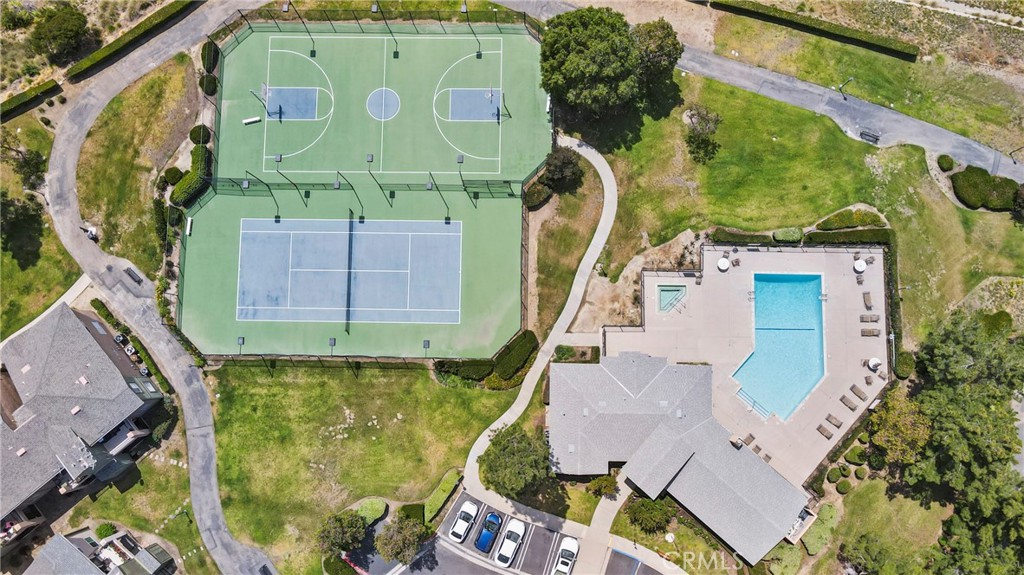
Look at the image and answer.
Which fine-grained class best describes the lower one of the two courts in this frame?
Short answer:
tennis court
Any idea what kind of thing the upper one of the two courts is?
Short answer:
basketball court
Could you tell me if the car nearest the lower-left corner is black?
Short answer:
No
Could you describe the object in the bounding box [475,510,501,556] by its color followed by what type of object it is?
blue car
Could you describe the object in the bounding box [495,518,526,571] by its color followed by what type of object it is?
white car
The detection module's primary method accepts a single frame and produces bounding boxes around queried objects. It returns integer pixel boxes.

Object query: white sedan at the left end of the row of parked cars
[448,498,477,546]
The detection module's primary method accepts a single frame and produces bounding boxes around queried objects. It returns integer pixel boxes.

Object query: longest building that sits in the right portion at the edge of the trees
[549,351,824,566]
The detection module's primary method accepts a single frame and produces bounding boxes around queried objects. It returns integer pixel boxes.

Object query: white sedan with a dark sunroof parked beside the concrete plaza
[551,535,578,575]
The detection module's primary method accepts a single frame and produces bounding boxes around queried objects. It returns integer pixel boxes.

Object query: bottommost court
[177,181,523,357]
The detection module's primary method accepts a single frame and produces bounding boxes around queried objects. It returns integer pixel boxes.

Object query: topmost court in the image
[215,22,551,183]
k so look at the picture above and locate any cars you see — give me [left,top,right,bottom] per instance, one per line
[551,535,578,575]
[475,510,501,556]
[495,518,526,571]
[448,498,477,546]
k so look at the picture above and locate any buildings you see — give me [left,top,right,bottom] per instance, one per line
[549,351,824,566]
[0,301,165,562]
[24,520,184,575]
